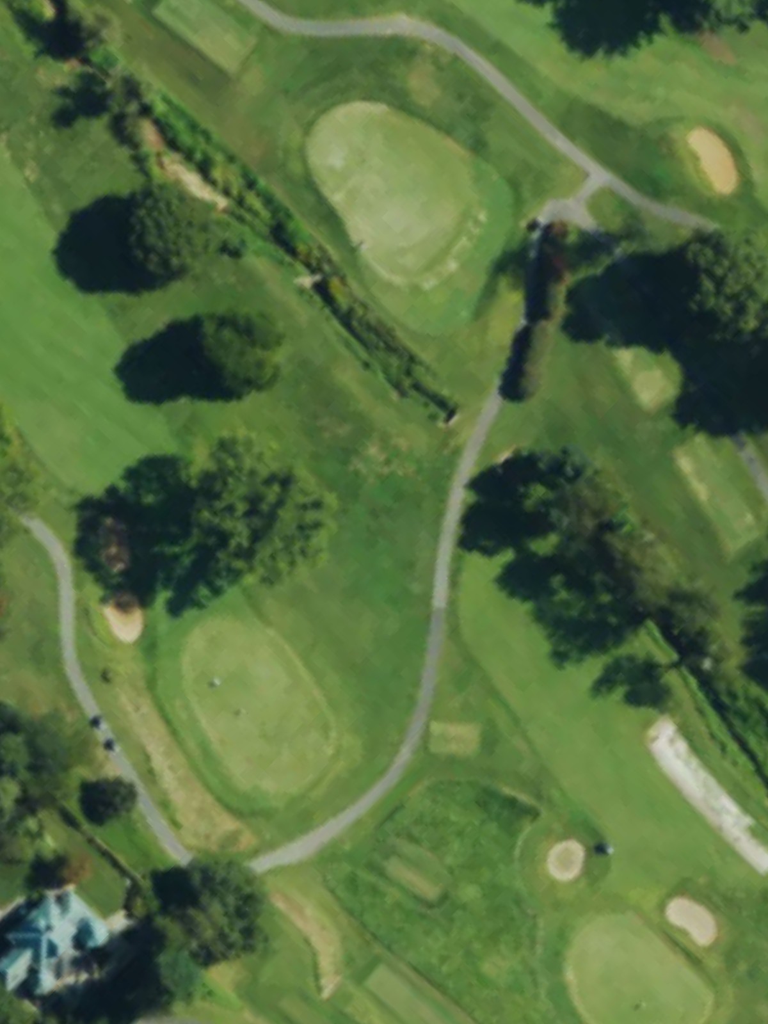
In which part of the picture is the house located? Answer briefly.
bottom left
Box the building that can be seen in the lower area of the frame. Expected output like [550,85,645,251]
[0,890,107,994]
